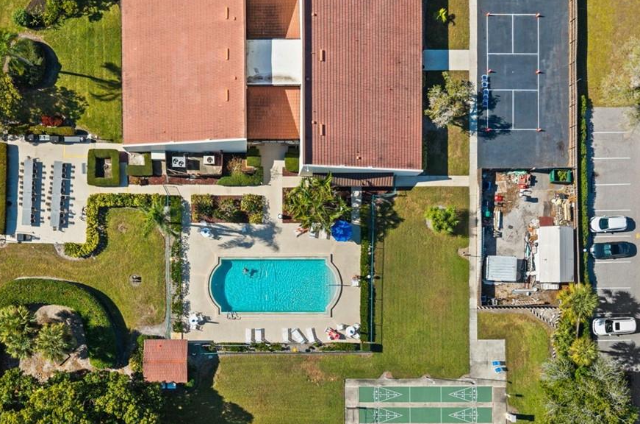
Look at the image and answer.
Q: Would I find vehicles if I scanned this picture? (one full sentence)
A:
Yes, I can see a vehicle in this picture.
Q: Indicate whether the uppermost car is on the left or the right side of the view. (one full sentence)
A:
You can find the uppermost car on the right side of the picture.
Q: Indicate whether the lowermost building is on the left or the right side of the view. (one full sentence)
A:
The lowermost building is on the left side of the image.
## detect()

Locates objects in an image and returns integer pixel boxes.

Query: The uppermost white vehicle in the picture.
[587,215,630,234]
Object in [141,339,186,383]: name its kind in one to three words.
building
